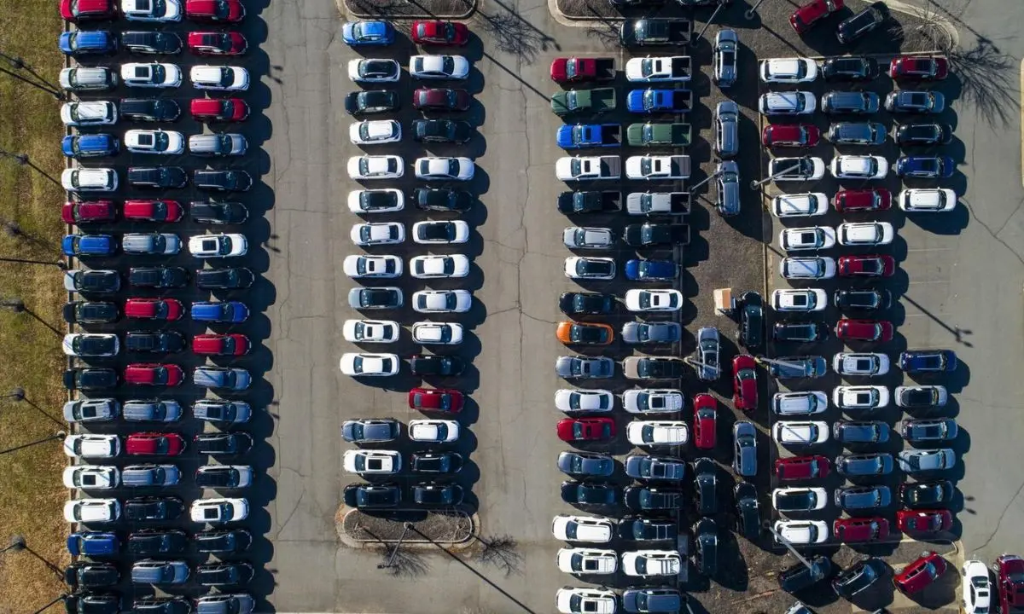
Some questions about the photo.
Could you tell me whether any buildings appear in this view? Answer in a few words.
No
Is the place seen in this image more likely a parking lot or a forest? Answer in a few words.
parking lot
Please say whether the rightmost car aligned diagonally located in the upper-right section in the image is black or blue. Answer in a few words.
black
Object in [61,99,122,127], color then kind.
white car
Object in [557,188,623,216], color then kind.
black truck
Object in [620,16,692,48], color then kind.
black truck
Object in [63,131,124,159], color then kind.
blue car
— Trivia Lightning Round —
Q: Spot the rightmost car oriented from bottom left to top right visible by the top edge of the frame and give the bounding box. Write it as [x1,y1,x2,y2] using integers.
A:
[832,1,889,46]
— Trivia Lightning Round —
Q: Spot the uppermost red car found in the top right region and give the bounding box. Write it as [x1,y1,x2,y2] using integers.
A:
[786,0,845,33]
